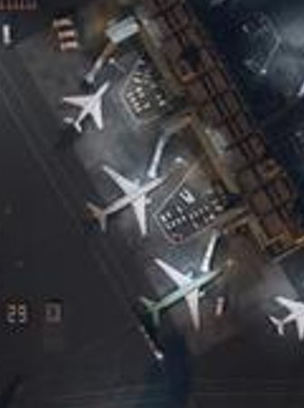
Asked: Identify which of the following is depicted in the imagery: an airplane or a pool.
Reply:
airplane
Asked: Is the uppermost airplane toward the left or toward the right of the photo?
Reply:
left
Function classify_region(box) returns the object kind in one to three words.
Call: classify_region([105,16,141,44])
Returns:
building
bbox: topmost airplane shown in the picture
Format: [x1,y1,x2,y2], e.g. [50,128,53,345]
[62,80,109,135]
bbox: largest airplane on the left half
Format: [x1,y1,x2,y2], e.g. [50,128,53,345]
[77,161,163,233]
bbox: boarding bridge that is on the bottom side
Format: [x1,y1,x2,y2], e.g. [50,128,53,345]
[197,222,228,273]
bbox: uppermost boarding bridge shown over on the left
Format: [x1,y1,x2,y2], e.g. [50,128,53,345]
[83,44,116,86]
